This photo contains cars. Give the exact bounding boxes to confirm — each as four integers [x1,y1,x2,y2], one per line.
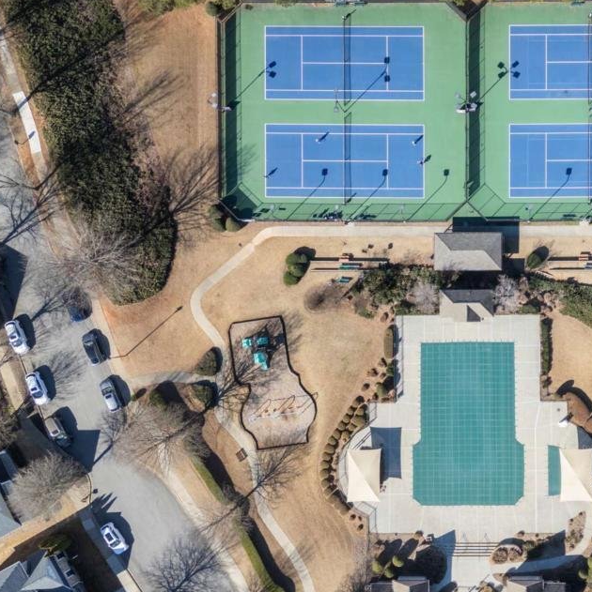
[68,288,89,321]
[81,329,105,364]
[45,414,70,447]
[101,522,125,556]
[99,377,121,412]
[25,372,47,405]
[6,321,29,354]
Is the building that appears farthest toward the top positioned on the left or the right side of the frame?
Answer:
right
